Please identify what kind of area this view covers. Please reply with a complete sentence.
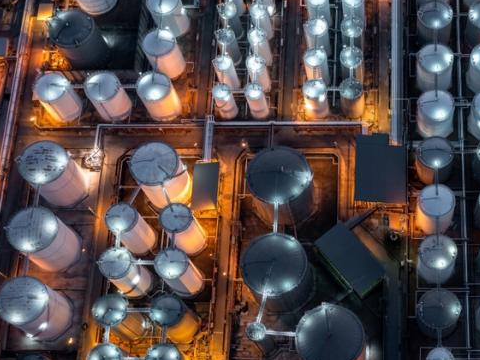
It's an industrial area.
